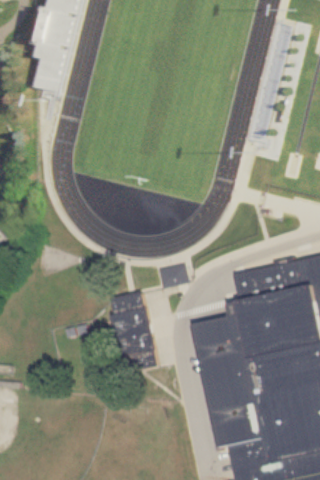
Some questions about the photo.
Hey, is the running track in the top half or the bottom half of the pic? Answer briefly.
top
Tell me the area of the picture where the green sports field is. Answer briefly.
top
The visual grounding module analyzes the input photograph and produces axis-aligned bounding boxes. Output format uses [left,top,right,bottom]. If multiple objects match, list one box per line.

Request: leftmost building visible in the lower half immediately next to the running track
[110,290,158,368]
